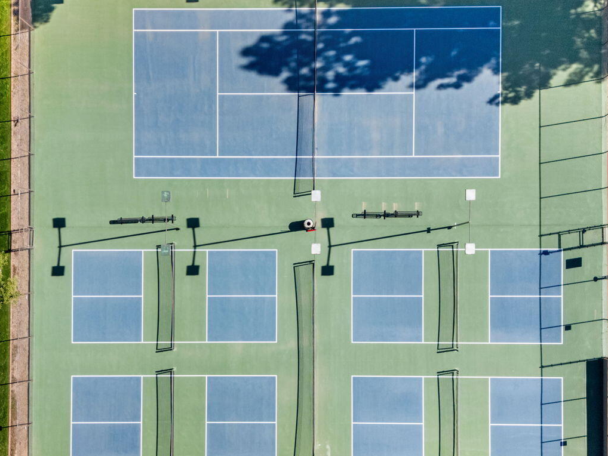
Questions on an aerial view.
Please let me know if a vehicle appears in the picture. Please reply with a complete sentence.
No, this view has no vehicle in it.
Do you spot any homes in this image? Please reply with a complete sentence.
No, the picture doesn't show any home.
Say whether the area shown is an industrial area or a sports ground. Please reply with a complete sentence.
This image shows a sports ground.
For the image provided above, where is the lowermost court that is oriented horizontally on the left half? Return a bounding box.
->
[70,375,277,456]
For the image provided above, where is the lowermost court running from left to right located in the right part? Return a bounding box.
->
[351,376,564,456]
